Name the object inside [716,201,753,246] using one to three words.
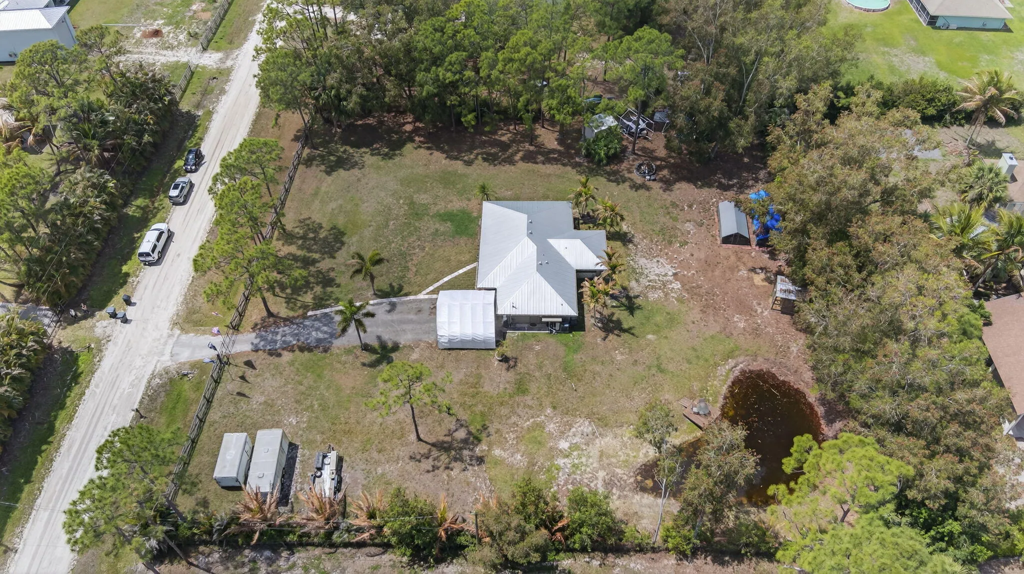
building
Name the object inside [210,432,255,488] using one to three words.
trailer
